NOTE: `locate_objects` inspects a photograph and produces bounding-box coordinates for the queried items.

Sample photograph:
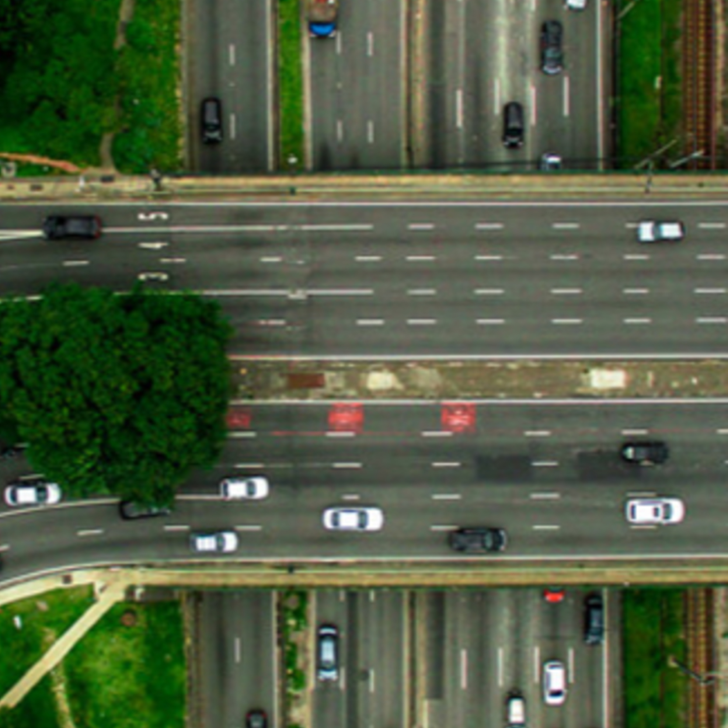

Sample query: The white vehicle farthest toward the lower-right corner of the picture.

[542,659,567,705]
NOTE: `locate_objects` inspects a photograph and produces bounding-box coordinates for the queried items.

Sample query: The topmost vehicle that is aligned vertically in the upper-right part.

[539,18,566,75]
